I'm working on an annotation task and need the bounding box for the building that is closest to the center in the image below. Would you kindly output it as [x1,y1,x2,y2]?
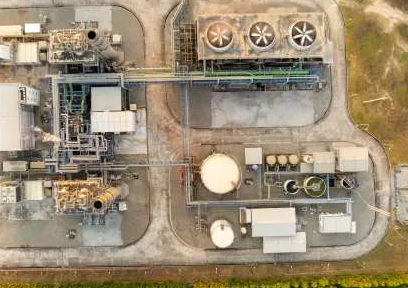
[243,145,263,166]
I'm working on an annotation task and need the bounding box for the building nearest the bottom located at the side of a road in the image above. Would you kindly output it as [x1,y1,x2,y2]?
[262,229,307,254]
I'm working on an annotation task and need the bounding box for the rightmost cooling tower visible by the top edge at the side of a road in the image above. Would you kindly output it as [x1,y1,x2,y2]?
[196,11,330,68]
